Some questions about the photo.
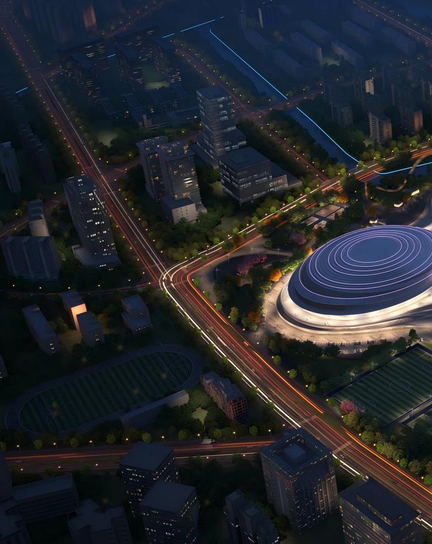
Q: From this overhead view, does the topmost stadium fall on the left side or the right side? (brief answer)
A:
right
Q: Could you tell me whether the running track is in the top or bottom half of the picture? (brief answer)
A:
bottom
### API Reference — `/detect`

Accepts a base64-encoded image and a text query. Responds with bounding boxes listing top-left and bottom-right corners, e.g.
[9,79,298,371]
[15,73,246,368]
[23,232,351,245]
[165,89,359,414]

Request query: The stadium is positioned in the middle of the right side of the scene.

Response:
[288,225,432,316]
